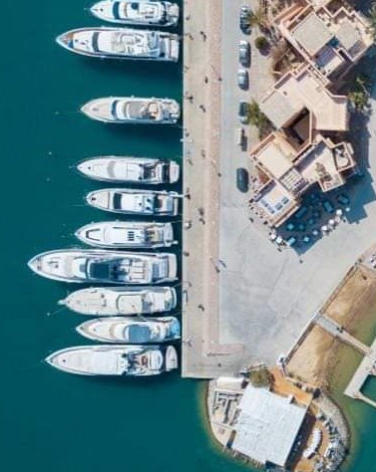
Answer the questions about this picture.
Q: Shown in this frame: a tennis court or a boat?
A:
boat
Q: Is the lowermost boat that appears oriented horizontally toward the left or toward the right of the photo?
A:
left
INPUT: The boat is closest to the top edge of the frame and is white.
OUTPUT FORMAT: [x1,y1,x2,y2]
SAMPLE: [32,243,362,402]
[84,0,189,28]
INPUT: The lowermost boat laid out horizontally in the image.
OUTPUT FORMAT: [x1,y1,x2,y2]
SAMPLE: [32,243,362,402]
[38,344,171,376]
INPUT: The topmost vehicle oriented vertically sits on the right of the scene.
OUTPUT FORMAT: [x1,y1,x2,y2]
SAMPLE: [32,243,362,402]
[238,8,250,33]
